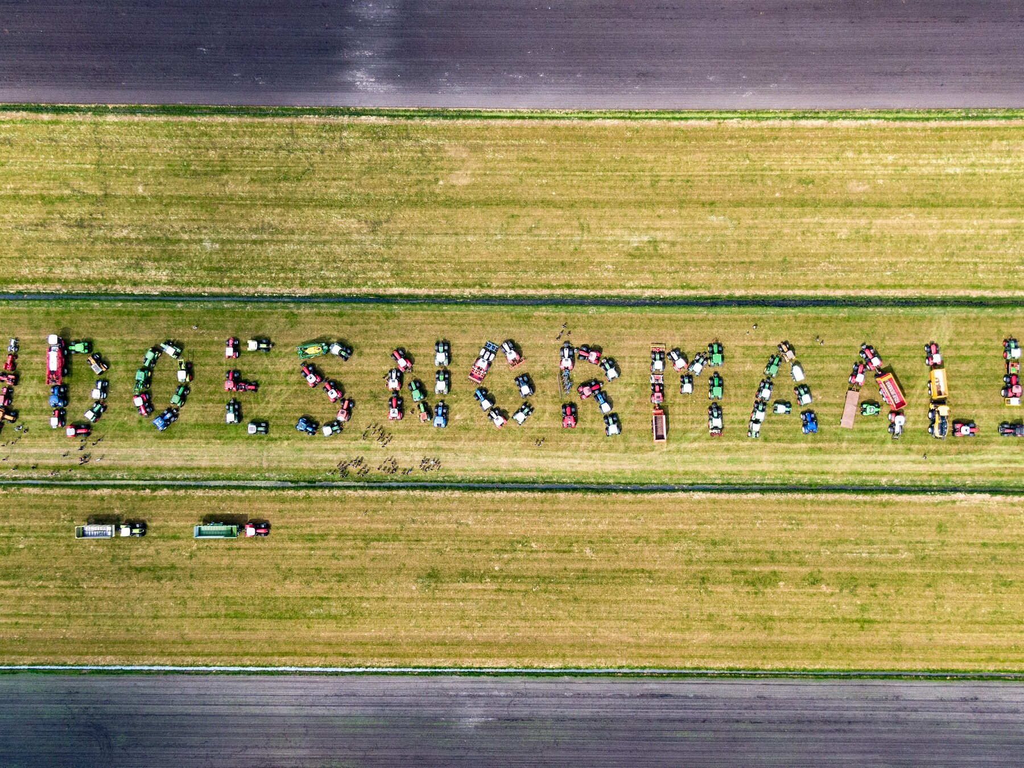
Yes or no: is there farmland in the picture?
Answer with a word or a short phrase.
Yes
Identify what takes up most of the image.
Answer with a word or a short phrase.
grass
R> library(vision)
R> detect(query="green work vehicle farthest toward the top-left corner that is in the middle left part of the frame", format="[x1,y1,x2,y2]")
[70,342,92,354]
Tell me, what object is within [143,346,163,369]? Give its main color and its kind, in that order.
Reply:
green work vehicle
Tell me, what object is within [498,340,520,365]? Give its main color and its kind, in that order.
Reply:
white work vehicle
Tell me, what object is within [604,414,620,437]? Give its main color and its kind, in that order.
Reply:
white work vehicle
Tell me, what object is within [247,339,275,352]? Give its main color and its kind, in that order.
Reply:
white vehicle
